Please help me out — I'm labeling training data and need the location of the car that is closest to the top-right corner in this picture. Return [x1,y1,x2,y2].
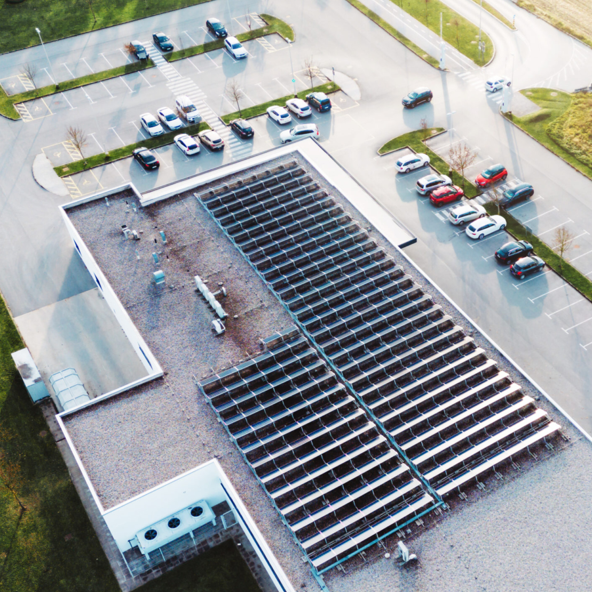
[485,76,512,94]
